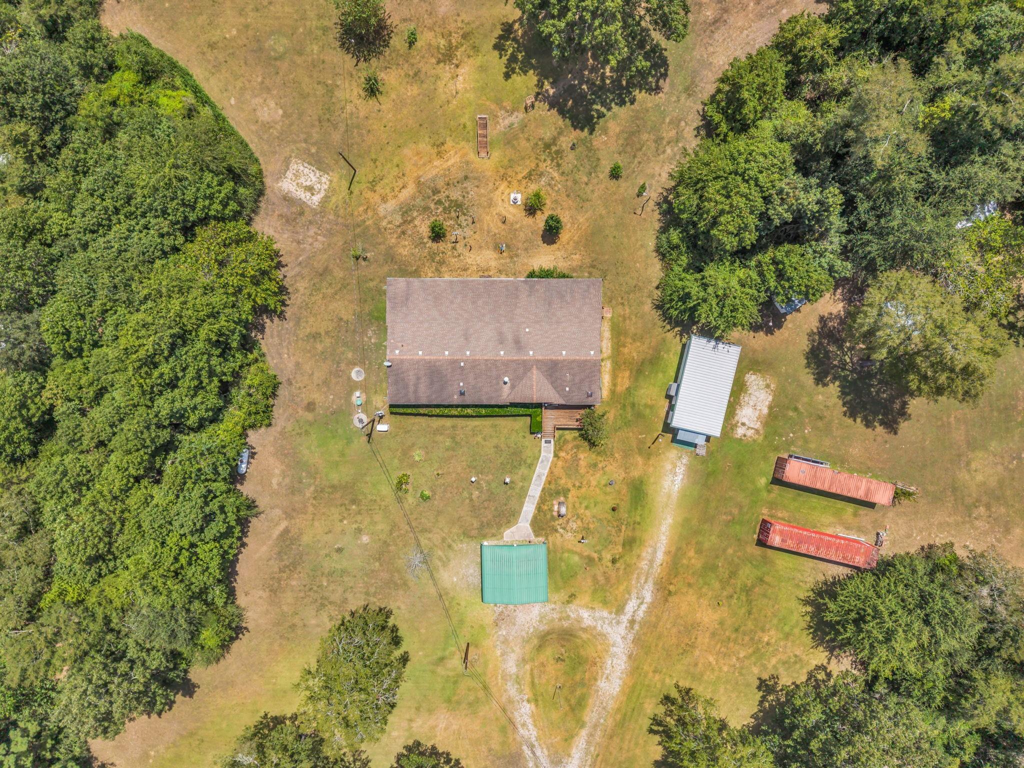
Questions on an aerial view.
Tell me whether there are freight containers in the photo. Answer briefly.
Yes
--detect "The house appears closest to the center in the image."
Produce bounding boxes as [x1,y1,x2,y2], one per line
[383,278,603,405]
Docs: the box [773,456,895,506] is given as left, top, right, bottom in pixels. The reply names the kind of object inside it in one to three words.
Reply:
shipping container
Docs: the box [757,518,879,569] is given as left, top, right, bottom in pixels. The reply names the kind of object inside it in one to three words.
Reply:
shipping container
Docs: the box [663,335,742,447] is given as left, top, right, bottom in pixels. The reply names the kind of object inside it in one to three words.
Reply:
building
